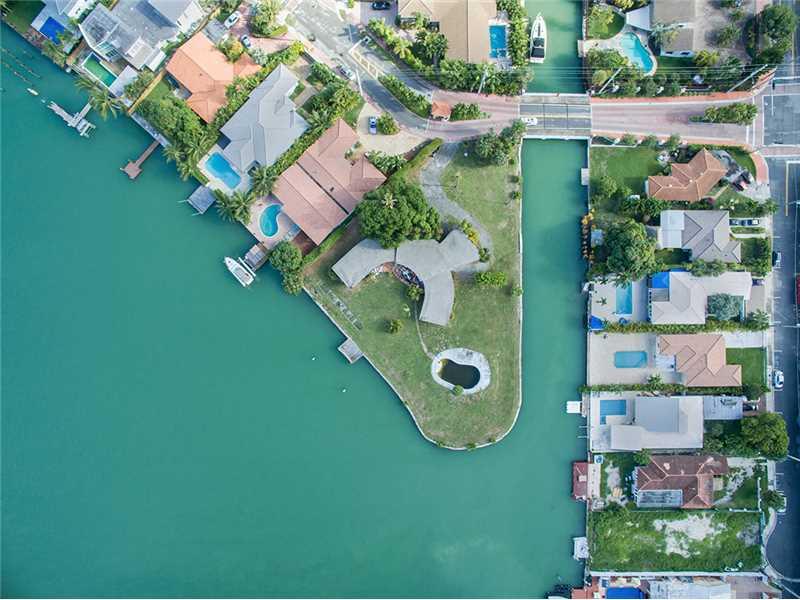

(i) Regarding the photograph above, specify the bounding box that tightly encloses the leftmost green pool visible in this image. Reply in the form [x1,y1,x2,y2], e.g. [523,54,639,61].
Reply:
[80,52,119,90]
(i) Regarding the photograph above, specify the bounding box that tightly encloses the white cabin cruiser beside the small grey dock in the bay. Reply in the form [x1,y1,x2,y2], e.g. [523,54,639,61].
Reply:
[226,259,258,288]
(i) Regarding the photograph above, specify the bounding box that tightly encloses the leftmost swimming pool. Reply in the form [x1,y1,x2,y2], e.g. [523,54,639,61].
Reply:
[38,15,66,45]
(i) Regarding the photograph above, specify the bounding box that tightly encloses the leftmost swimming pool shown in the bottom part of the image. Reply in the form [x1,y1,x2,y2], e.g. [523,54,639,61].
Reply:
[439,359,480,389]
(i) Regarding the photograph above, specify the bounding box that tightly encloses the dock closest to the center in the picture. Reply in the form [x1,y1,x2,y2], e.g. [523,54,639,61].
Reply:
[338,338,362,362]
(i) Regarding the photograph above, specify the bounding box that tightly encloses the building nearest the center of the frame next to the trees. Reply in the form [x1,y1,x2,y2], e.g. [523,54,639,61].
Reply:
[332,230,479,326]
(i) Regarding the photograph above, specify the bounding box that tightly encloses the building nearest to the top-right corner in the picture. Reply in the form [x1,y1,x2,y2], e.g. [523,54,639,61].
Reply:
[648,0,702,58]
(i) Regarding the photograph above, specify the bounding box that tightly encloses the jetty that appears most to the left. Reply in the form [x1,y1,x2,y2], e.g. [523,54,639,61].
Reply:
[51,97,95,138]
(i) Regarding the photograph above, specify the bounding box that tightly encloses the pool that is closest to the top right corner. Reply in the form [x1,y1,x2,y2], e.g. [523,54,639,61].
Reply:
[617,31,656,74]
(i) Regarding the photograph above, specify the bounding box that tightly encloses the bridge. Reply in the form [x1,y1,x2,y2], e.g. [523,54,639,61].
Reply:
[519,90,595,138]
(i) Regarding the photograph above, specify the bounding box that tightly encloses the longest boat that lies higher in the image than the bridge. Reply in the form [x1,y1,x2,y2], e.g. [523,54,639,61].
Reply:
[531,12,545,63]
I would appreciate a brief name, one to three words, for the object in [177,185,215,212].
pier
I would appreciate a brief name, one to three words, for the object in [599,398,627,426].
swimming pool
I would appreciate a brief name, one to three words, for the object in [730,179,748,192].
vehicle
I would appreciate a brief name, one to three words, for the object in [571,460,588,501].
house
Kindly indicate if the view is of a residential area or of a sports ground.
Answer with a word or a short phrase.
residential area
